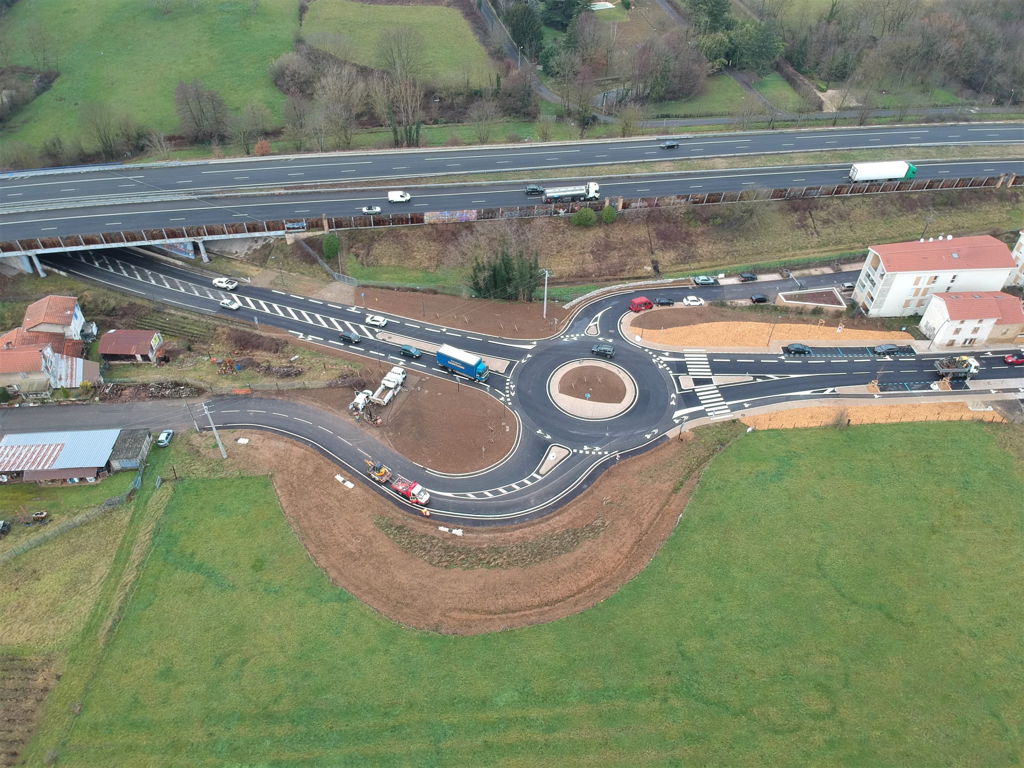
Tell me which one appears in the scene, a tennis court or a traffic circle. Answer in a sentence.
The one in the frame is a traffic circle.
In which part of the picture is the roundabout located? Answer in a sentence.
The roundabout sits in the center section of the image.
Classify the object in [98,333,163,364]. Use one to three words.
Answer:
barn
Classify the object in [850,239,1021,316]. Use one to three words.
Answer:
building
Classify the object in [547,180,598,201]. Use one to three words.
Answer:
truck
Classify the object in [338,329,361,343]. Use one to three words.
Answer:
car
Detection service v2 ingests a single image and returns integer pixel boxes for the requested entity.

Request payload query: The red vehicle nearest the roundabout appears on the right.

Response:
[630,297,654,312]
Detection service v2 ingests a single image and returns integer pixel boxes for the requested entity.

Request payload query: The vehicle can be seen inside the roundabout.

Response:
[591,343,615,357]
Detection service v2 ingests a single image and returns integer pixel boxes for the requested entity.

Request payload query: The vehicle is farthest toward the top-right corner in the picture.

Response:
[852,160,919,182]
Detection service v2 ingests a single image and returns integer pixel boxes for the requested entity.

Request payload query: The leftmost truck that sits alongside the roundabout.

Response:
[439,344,491,382]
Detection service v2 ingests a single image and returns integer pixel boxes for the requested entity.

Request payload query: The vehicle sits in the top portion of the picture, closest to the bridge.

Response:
[212,276,236,289]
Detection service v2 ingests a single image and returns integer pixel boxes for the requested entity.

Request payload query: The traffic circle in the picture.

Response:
[505,334,685,454]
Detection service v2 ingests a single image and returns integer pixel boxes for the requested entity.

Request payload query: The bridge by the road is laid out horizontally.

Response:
[0,172,299,281]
